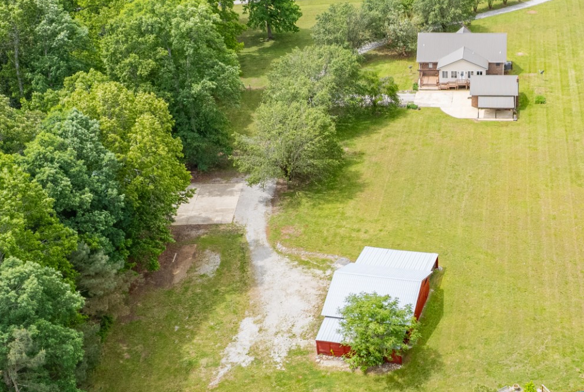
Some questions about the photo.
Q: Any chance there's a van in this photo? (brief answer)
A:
No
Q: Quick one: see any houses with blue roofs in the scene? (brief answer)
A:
No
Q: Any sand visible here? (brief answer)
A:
No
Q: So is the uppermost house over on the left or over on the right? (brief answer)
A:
right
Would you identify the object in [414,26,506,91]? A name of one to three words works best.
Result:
house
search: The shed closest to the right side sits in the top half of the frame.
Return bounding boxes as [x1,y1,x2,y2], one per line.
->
[470,75,518,121]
